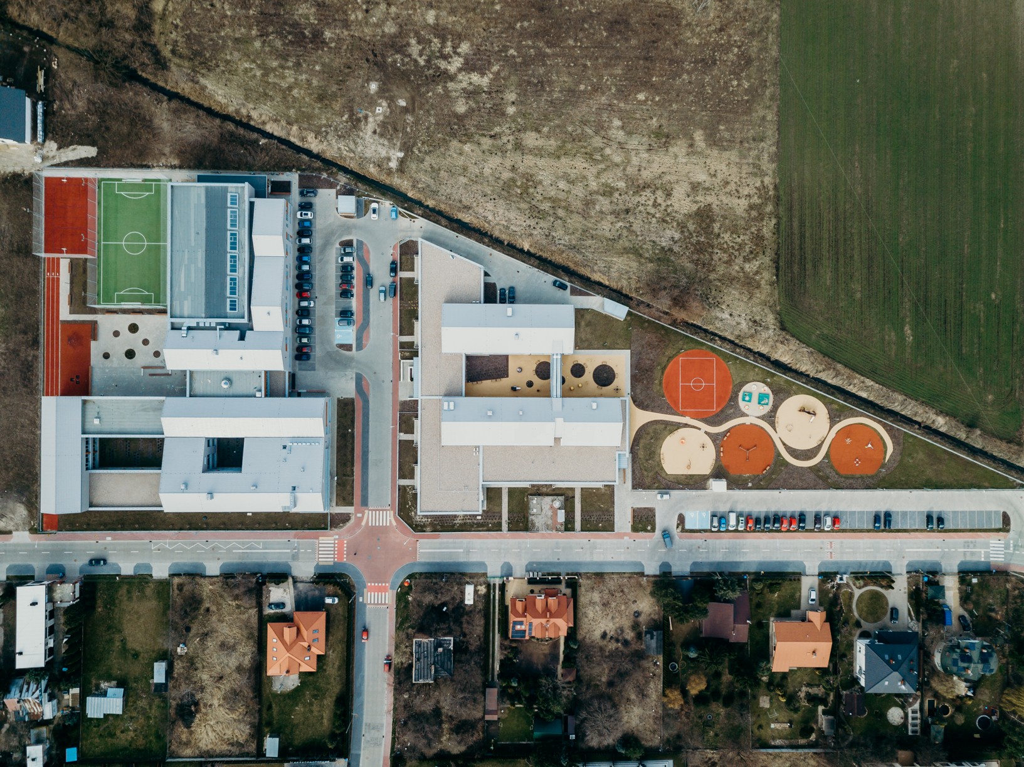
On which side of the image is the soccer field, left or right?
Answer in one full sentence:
The soccer field sits on the left side.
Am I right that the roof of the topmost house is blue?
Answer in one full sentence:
Yes, the roof of the topmost house is indeed blue.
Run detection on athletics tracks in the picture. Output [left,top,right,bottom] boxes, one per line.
[46,257,60,396]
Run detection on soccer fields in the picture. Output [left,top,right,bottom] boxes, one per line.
[97,177,168,306]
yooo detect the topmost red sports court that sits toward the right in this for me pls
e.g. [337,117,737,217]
[663,349,732,419]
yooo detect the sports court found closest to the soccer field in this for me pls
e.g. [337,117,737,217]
[44,177,97,256]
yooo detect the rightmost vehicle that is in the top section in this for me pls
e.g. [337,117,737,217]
[552,279,569,291]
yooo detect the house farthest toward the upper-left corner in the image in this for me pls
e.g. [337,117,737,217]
[0,88,36,147]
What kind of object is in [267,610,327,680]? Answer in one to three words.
house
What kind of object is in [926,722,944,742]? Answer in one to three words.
shed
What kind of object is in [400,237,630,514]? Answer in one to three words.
building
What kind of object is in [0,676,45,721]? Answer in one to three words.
barn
